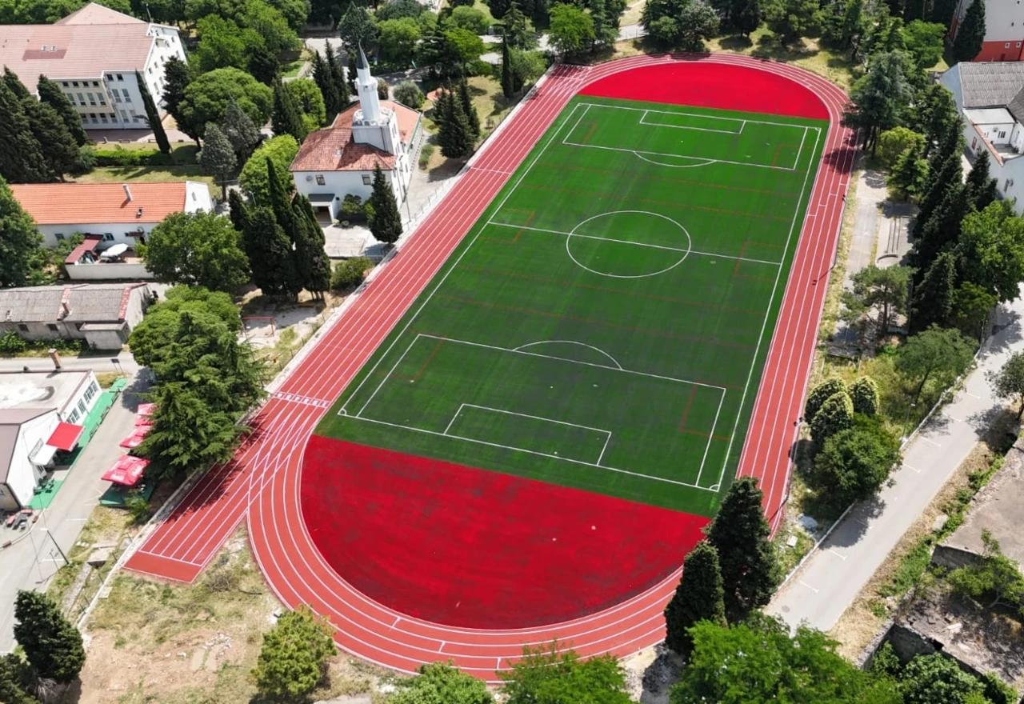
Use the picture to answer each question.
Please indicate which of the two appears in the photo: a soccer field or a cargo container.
soccer field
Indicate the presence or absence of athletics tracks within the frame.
Yes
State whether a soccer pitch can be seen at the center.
Yes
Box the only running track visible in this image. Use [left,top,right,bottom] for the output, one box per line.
[245,52,860,687]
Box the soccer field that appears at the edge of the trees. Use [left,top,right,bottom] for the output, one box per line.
[314,95,828,520]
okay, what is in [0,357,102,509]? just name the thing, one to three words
building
